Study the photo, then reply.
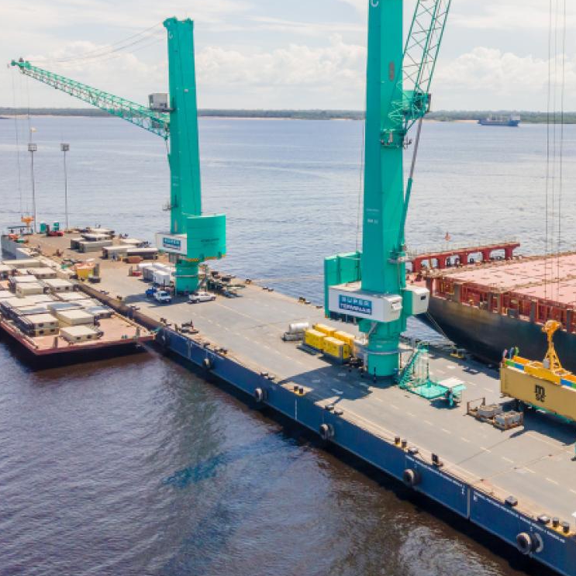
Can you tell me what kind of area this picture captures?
port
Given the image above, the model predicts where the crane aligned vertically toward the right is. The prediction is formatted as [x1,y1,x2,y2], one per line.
[318,0,453,377]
